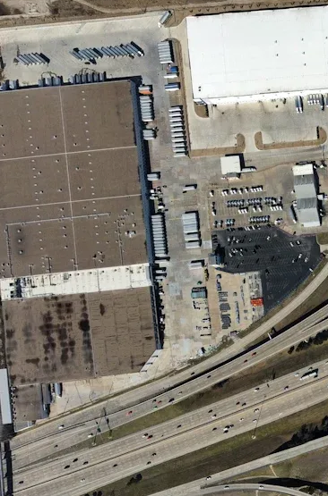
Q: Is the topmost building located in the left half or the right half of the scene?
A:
right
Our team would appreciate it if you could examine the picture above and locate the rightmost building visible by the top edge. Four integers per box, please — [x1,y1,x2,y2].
[185,4,328,107]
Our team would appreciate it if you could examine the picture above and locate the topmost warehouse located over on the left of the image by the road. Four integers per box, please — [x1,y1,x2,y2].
[0,80,166,386]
